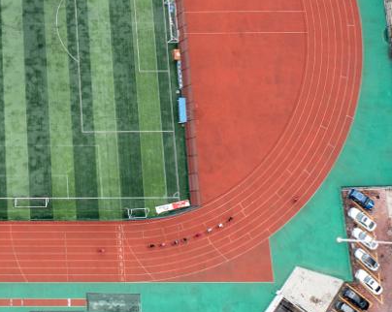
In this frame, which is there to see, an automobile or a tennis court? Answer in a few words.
automobile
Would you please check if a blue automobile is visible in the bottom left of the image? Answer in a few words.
No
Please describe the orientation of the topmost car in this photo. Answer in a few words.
at an angle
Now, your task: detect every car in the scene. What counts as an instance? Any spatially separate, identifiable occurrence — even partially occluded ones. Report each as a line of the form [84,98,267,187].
[340,285,369,311]
[347,186,376,211]
[352,248,381,272]
[333,299,357,312]
[354,270,383,295]
[350,227,379,252]
[348,208,377,231]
